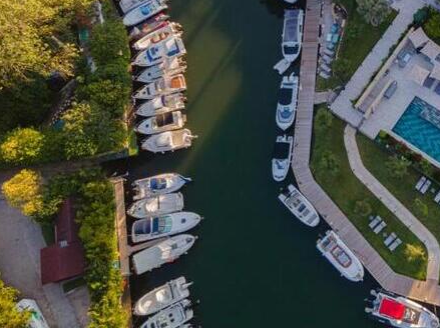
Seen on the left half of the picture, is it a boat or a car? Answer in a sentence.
There is a boat on the left half of the picture.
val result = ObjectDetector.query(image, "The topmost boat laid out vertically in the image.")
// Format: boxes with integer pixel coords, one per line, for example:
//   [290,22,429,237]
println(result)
[279,8,303,65]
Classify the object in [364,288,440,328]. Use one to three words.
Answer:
boat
